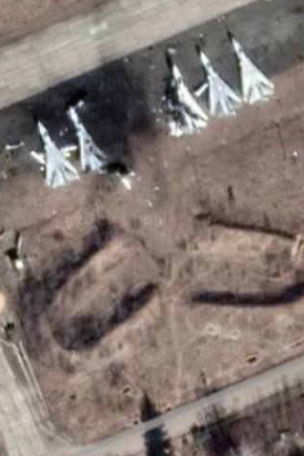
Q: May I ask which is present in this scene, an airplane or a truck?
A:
airplane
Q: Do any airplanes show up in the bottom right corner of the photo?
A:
No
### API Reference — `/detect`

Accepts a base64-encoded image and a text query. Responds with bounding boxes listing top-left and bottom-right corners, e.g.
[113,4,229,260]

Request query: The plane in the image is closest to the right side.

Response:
[232,40,273,103]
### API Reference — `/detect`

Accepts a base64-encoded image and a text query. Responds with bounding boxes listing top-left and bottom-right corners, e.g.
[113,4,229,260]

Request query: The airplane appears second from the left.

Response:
[71,107,110,171]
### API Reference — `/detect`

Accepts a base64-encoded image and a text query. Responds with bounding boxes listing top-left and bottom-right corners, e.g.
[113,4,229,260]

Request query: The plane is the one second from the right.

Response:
[201,53,241,116]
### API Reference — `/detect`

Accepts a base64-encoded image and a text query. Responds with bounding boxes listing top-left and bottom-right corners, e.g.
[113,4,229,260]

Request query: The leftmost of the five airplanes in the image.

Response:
[39,119,77,186]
